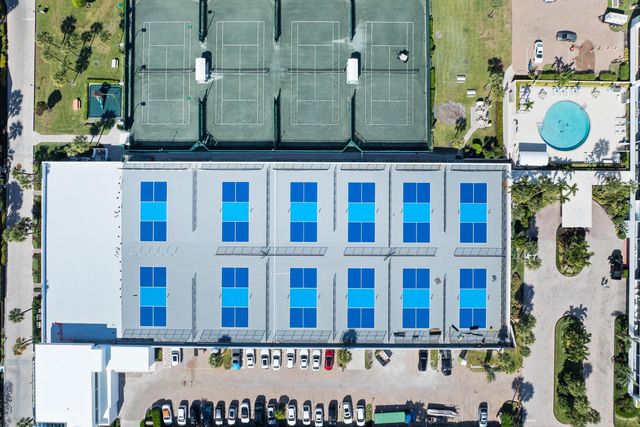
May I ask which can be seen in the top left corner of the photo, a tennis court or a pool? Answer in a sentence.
There is a tennis court in the top left corner of the photo.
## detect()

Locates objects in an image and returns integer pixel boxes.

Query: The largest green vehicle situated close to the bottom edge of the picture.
[376,409,414,426]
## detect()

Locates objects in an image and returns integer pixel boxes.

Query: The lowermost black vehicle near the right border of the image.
[609,254,622,278]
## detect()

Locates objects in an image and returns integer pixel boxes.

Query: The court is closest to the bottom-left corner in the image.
[136,266,169,326]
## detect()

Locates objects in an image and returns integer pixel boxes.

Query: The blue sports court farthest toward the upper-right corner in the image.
[458,183,491,243]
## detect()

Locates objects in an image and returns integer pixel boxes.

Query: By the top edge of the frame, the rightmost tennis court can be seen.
[352,0,428,151]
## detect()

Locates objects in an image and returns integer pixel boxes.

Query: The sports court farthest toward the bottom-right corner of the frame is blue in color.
[458,268,491,328]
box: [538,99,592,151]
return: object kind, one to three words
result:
swimming pool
